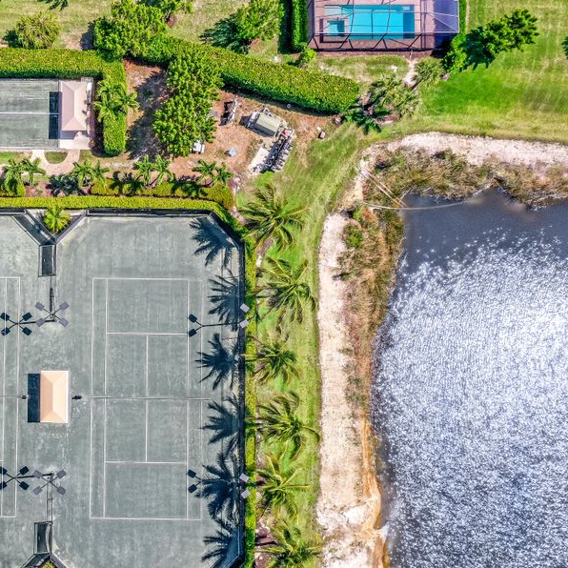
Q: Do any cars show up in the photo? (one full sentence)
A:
No, I can see no car in this picture.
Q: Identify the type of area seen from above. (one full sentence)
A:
This looks like a sports ground.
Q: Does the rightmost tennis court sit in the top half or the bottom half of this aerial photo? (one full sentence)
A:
The rightmost tennis court is in the bottom half of the image.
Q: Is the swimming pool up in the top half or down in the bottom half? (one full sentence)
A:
The swimming pool is in the top half of the image.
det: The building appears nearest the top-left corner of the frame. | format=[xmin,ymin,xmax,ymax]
[60,80,87,137]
